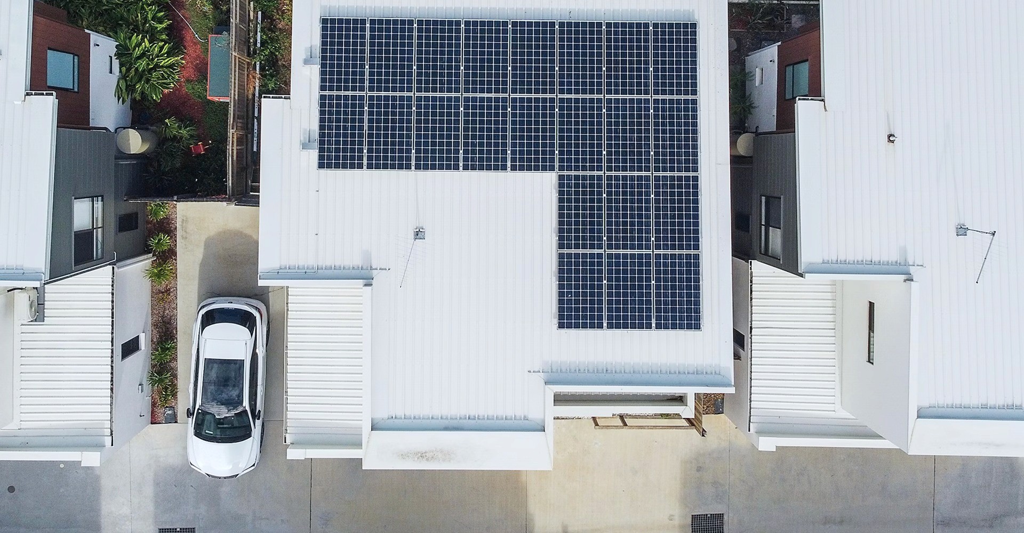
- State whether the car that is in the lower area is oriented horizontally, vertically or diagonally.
vertically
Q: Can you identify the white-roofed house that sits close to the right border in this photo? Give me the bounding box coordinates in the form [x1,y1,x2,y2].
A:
[723,0,1024,457]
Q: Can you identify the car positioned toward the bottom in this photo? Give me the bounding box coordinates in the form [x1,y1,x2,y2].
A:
[188,295,271,476]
